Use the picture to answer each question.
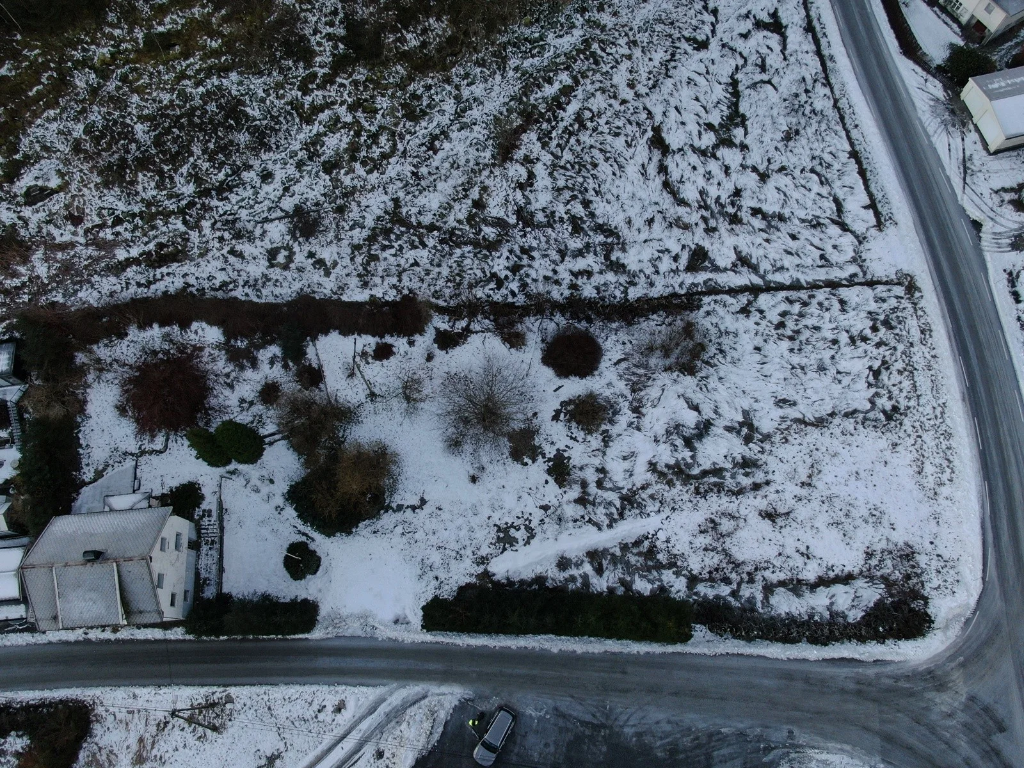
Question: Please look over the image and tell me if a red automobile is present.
No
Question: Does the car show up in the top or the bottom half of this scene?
bottom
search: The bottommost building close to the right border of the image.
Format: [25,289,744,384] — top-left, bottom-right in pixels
[960,66,1024,150]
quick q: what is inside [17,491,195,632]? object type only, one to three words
house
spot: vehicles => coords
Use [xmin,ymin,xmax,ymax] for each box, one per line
[473,705,517,767]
